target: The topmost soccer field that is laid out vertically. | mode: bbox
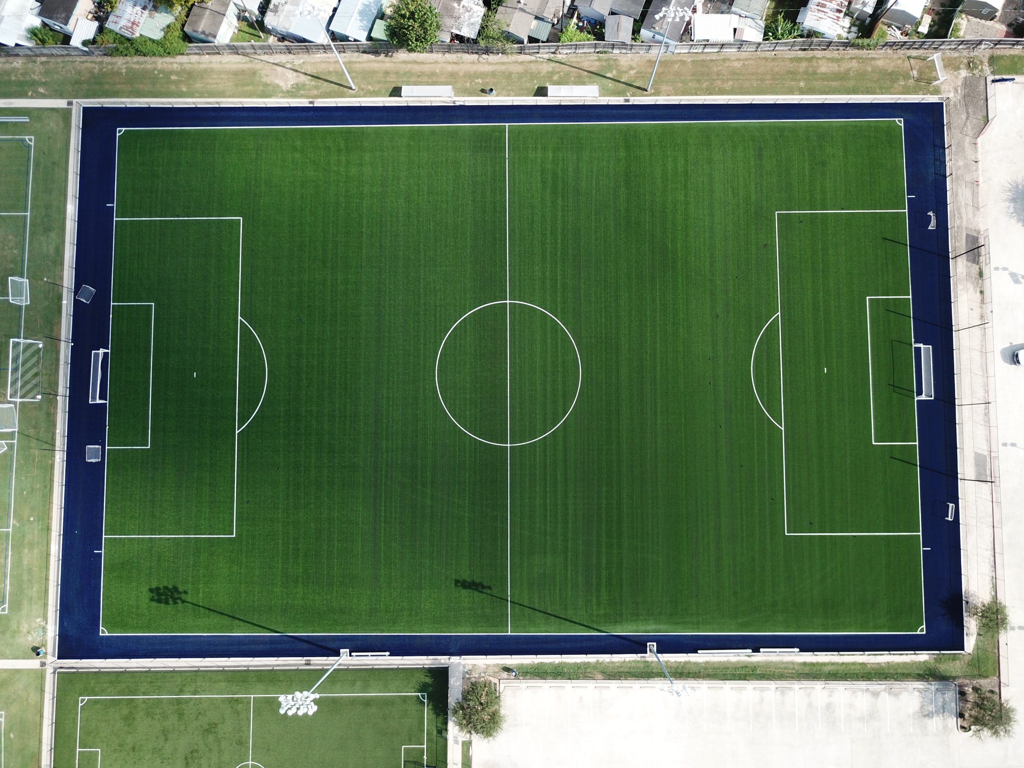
[0,136,39,613]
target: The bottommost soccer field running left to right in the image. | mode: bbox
[50,665,451,768]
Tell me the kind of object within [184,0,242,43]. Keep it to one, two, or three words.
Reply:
house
